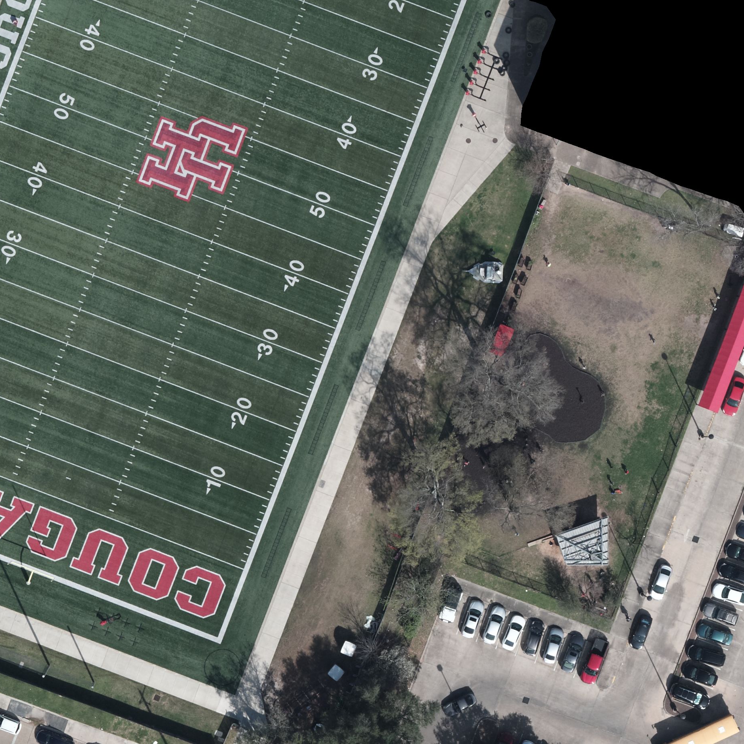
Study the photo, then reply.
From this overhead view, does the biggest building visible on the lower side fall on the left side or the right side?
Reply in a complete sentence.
The biggest building visible on the lower side sits on the right side.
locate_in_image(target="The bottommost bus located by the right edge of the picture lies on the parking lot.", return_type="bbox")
[662,710,743,744]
